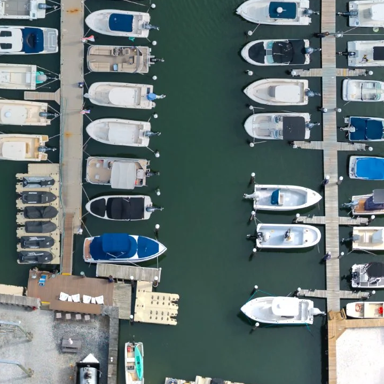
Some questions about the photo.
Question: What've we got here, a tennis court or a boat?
boat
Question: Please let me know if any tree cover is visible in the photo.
No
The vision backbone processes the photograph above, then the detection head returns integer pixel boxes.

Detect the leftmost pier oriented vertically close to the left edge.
[17,163,60,264]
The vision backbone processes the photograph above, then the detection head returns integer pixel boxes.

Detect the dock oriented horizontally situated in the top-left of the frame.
[24,91,59,104]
